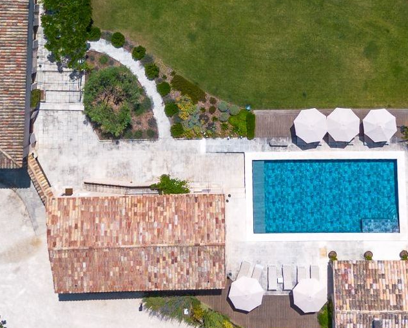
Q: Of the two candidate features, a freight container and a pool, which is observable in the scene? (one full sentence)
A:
I can see a pool in this picture.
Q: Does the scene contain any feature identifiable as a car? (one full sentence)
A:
No, the scene contains no car.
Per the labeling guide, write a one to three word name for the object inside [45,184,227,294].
shed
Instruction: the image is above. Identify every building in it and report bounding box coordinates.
[0,0,48,171]
[332,250,408,328]
[45,184,227,294]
